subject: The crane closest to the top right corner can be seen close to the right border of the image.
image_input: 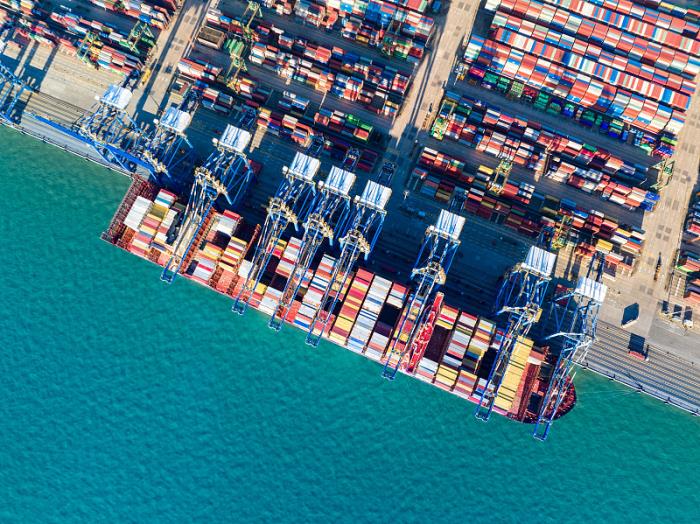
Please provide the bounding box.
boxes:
[649,154,686,196]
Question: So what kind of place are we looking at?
port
